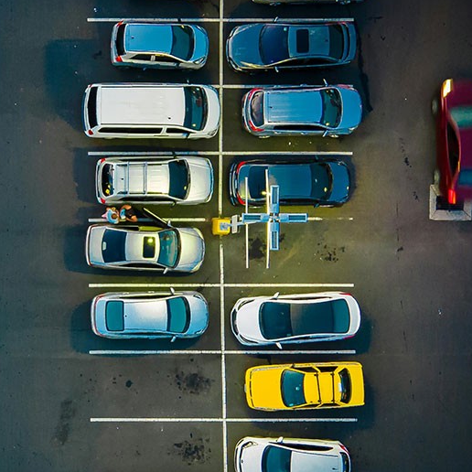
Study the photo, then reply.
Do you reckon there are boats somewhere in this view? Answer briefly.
No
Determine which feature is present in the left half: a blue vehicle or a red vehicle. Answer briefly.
blue vehicle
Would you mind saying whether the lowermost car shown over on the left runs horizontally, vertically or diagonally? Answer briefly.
horizontally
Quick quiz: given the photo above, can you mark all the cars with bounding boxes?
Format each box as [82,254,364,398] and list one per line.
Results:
[248,359,364,416]
[97,151,212,208]
[87,215,203,277]
[433,79,472,202]
[92,290,206,345]
[245,78,362,138]
[232,154,349,211]
[233,291,360,351]
[237,436,350,472]
[113,18,206,70]
[228,16,358,72]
